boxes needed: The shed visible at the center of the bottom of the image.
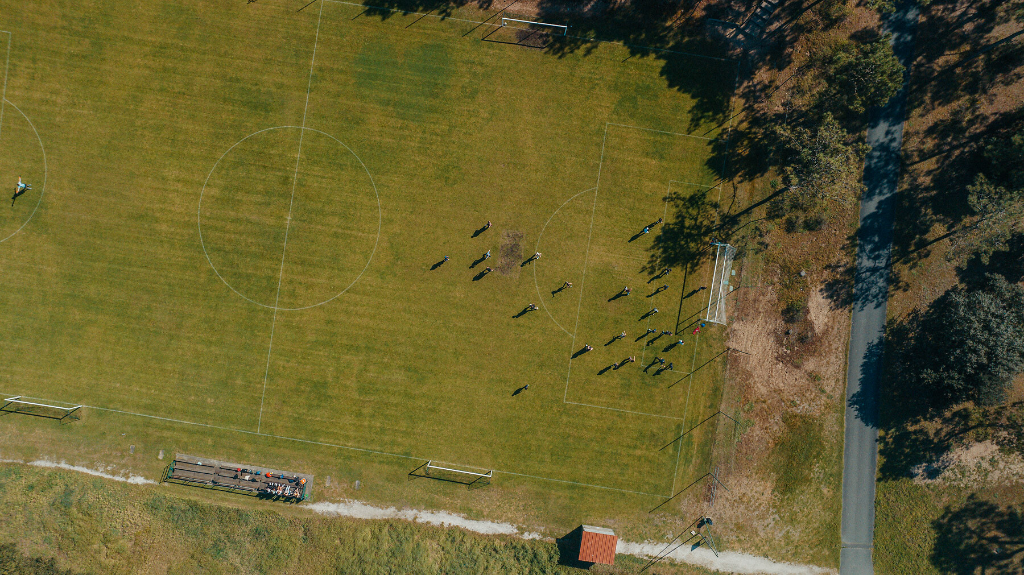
[578,525,619,566]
